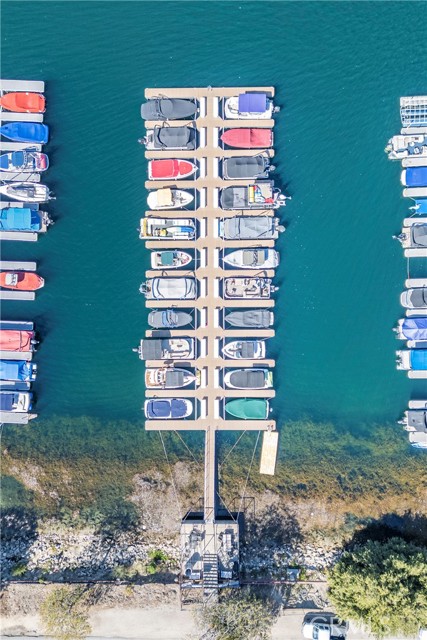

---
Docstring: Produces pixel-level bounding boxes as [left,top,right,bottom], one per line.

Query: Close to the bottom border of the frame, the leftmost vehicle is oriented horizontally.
[303,620,347,640]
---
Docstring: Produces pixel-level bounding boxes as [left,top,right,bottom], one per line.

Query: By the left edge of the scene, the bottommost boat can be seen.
[0,390,39,412]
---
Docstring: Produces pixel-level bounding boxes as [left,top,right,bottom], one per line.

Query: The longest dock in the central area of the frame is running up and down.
[145,88,274,431]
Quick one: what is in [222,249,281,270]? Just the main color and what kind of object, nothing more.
white boat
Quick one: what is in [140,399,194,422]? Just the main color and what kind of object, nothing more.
blue boat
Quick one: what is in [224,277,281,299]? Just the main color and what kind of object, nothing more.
white boat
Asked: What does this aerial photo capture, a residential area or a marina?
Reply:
marina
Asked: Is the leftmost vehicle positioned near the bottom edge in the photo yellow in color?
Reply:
No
